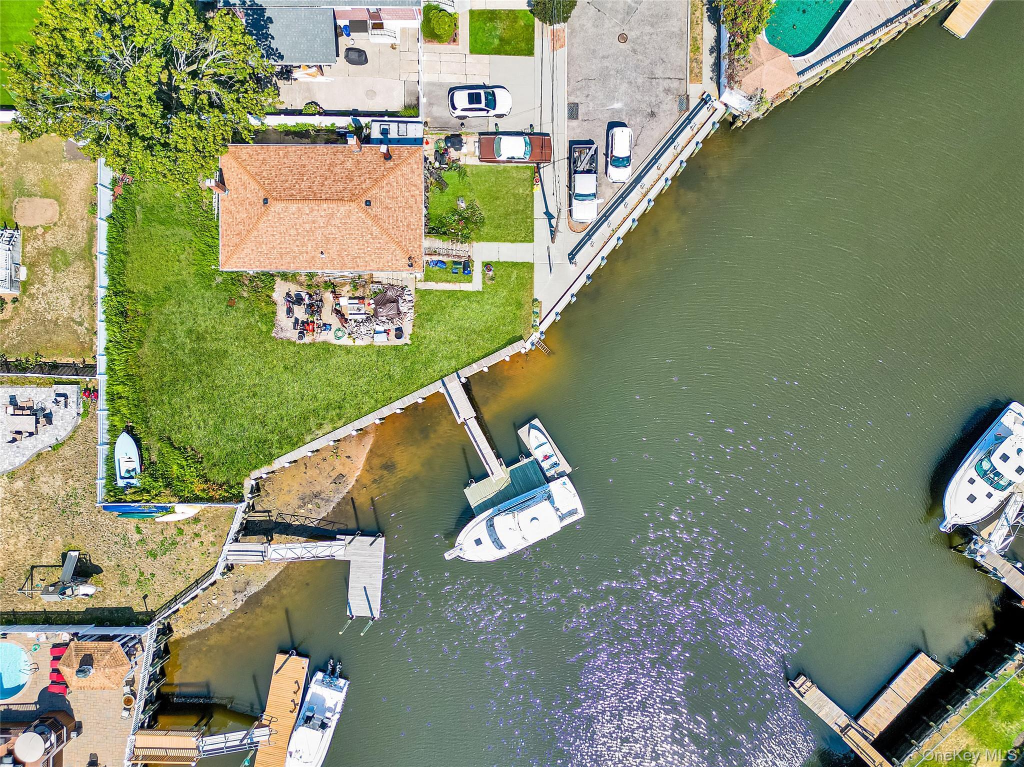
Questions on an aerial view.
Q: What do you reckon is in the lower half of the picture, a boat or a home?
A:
boat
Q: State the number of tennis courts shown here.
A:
zero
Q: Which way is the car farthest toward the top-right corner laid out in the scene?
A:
vertically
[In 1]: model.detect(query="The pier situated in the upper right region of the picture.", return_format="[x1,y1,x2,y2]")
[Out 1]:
[940,0,991,40]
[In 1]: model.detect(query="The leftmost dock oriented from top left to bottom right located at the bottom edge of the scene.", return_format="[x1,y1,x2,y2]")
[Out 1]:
[788,674,861,737]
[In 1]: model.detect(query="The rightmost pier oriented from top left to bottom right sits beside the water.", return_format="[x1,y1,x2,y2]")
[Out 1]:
[980,553,1024,599]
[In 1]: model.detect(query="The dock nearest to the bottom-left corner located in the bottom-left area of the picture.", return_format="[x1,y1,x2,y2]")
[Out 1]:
[118,718,209,766]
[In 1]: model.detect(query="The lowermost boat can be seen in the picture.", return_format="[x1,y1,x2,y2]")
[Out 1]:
[288,654,349,767]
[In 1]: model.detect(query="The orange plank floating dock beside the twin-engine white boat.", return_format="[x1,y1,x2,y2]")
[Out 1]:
[254,653,310,767]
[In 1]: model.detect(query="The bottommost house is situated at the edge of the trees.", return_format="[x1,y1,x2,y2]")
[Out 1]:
[200,135,426,274]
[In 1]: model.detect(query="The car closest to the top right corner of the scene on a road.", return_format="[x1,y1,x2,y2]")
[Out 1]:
[607,119,638,183]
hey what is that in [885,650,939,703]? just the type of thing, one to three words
pier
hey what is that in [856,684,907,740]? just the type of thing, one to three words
pier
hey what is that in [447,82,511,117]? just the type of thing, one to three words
car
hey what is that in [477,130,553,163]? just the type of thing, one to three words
car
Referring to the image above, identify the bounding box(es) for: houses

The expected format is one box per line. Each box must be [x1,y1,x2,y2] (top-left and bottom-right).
[200,135,426,274]
[211,0,423,66]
